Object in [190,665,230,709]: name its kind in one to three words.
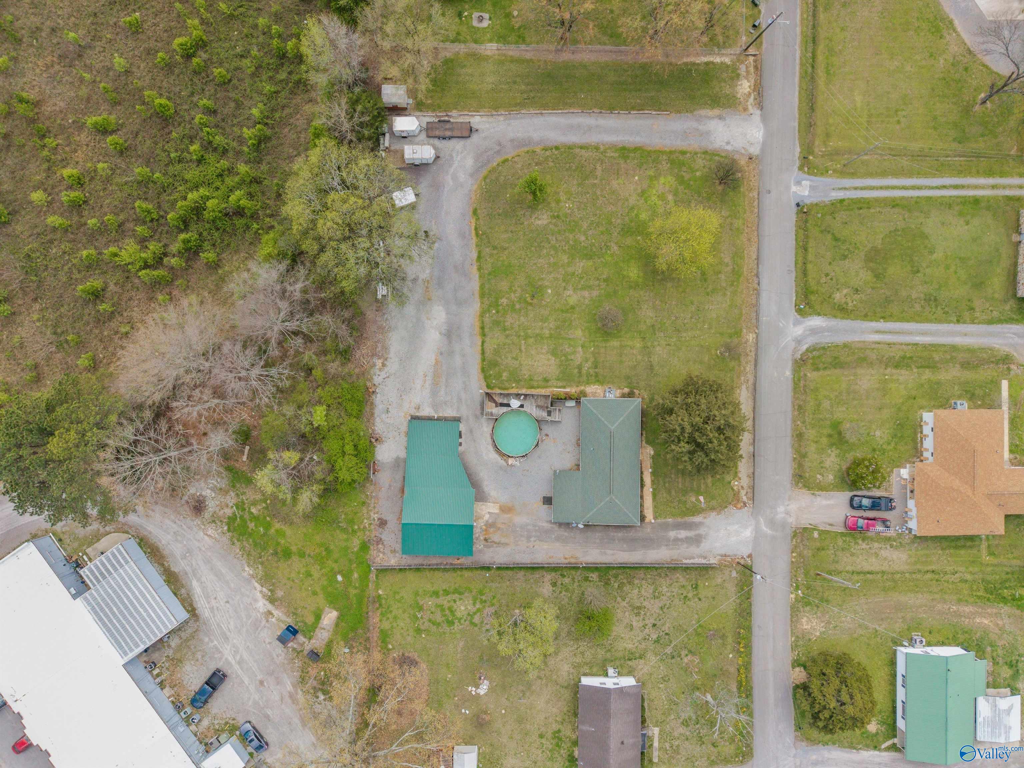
truck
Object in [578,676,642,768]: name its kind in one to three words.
house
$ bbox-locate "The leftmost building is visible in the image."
[0,535,209,768]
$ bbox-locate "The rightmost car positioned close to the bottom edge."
[239,719,270,754]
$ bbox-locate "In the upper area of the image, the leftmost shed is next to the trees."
[382,85,407,110]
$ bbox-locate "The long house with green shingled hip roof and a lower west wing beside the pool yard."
[552,398,642,526]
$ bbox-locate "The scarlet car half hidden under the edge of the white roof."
[8,734,33,758]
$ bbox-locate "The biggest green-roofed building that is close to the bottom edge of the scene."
[896,647,987,767]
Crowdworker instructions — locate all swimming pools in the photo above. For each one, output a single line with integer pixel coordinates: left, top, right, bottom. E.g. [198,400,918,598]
[490,409,543,459]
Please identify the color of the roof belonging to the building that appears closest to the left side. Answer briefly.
white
